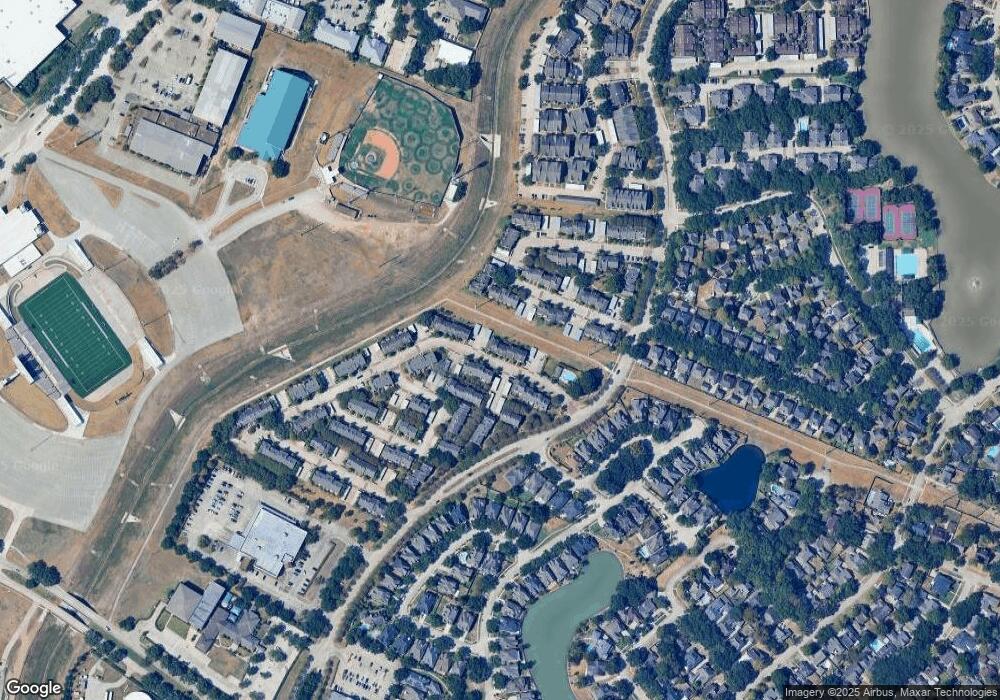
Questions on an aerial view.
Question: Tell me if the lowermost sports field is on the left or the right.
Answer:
left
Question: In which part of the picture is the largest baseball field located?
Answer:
top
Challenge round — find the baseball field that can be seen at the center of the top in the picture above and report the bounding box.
[338,76,461,206]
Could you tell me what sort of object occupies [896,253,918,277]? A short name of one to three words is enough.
swimming pool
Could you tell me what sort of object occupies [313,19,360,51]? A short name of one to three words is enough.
building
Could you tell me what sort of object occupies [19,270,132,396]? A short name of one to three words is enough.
sports field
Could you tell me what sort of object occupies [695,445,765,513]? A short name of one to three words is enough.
pond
